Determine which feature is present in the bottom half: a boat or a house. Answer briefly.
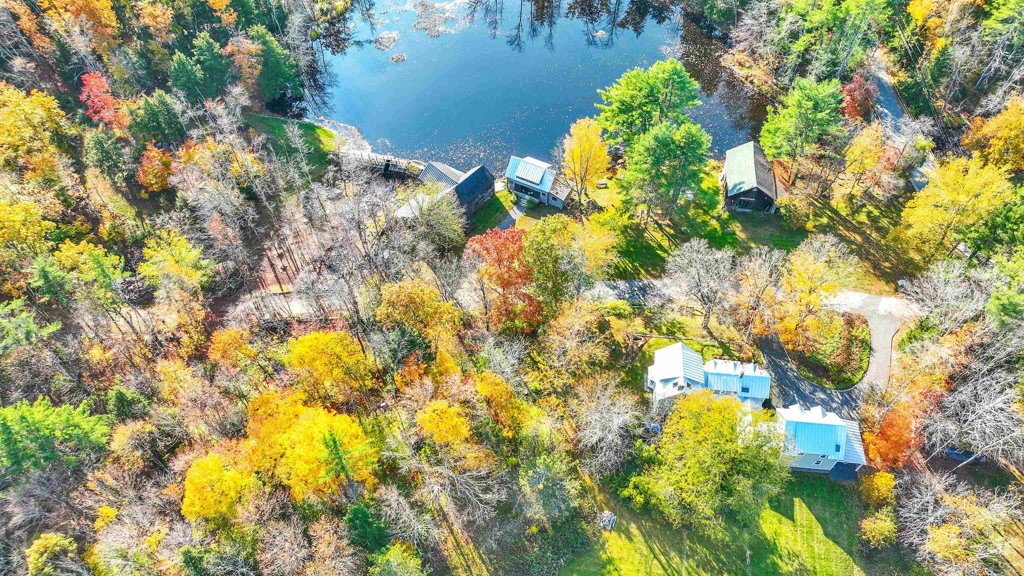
house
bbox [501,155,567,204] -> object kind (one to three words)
house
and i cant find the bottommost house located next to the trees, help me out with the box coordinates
[773,401,868,487]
